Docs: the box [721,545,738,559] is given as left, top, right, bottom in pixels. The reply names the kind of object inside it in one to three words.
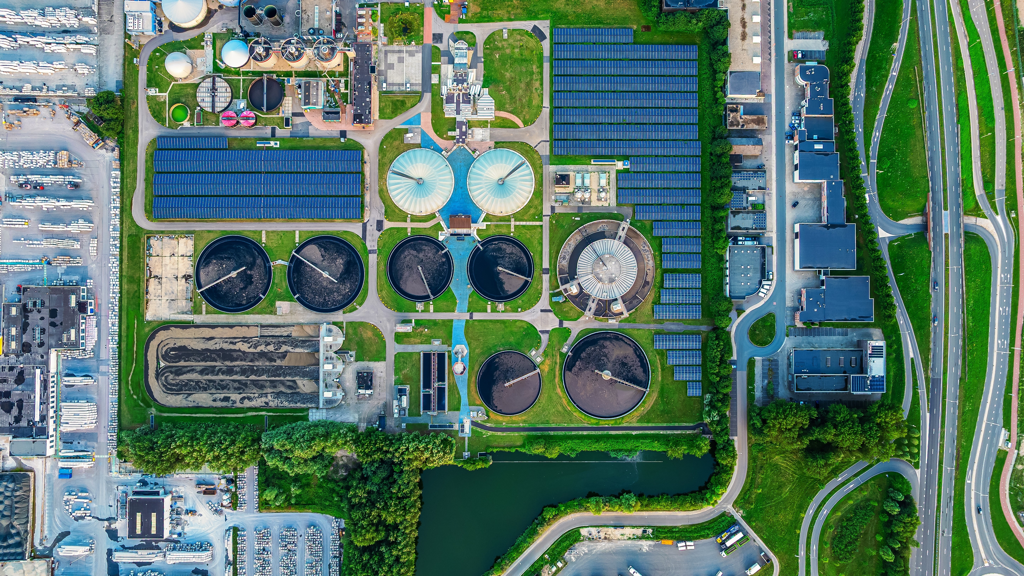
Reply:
vehicle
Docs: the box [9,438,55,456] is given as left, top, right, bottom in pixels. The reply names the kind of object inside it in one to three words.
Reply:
building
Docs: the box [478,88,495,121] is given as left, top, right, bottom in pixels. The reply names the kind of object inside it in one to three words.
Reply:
building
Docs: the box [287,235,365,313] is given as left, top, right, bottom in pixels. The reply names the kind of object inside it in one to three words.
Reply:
storage tank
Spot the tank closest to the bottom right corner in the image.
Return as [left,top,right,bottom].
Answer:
[563,331,651,420]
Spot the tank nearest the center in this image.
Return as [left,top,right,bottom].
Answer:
[467,235,534,302]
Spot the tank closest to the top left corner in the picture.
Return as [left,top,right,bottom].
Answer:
[161,0,210,28]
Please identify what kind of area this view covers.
industrial area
